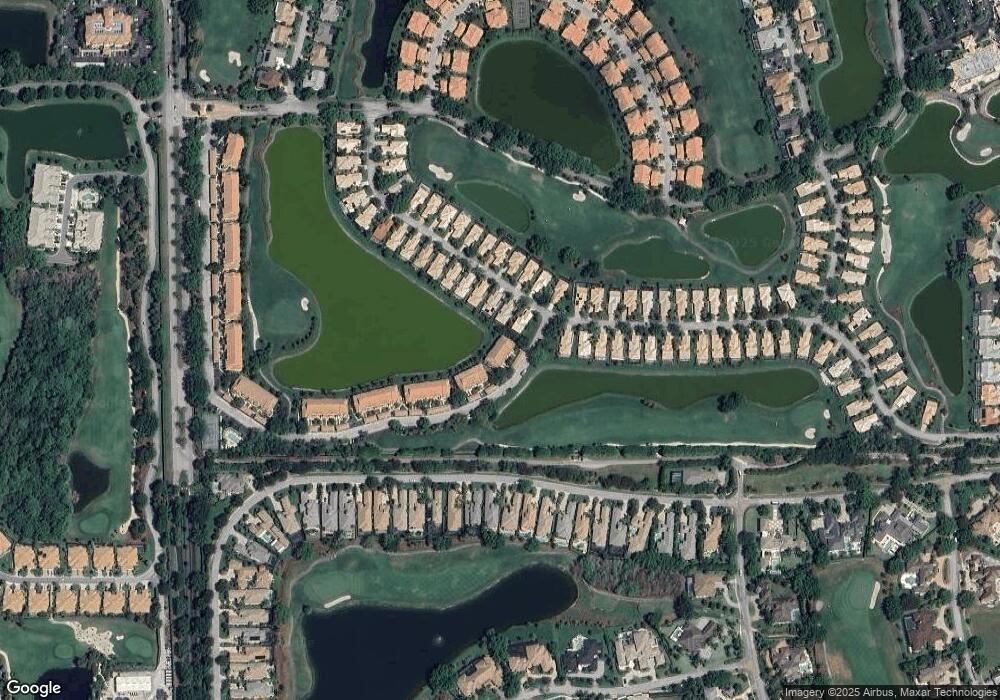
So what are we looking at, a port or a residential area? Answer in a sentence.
This image shows a residential area.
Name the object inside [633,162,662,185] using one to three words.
house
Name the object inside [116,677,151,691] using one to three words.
shed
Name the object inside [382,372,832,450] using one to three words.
golf course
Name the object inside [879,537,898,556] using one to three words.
swimming pool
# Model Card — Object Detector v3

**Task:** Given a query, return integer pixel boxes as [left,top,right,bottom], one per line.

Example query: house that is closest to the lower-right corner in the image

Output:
[926,659,962,694]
